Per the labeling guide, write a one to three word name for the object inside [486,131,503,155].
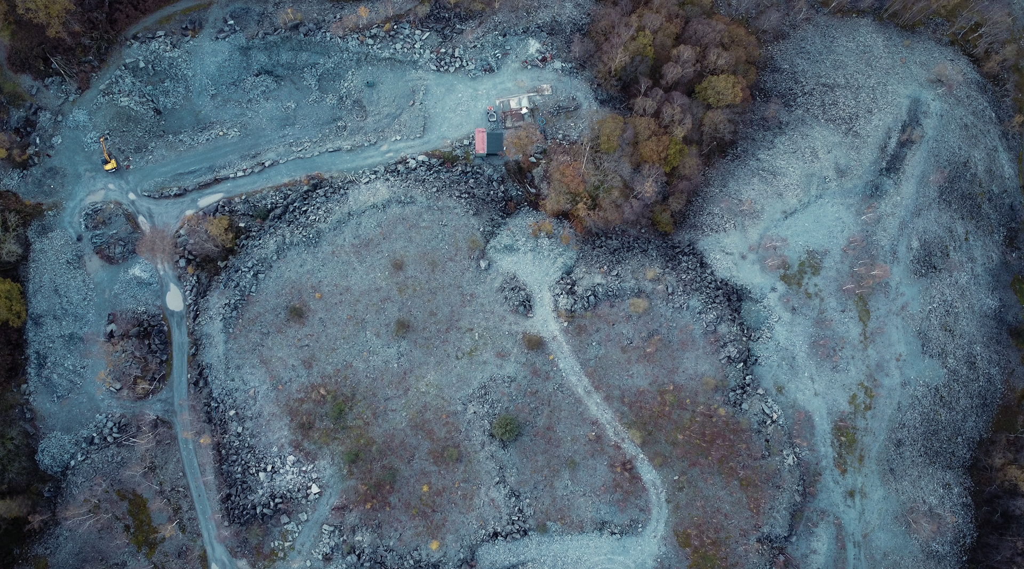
shed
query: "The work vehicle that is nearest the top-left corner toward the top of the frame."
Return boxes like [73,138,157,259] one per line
[99,138,121,175]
